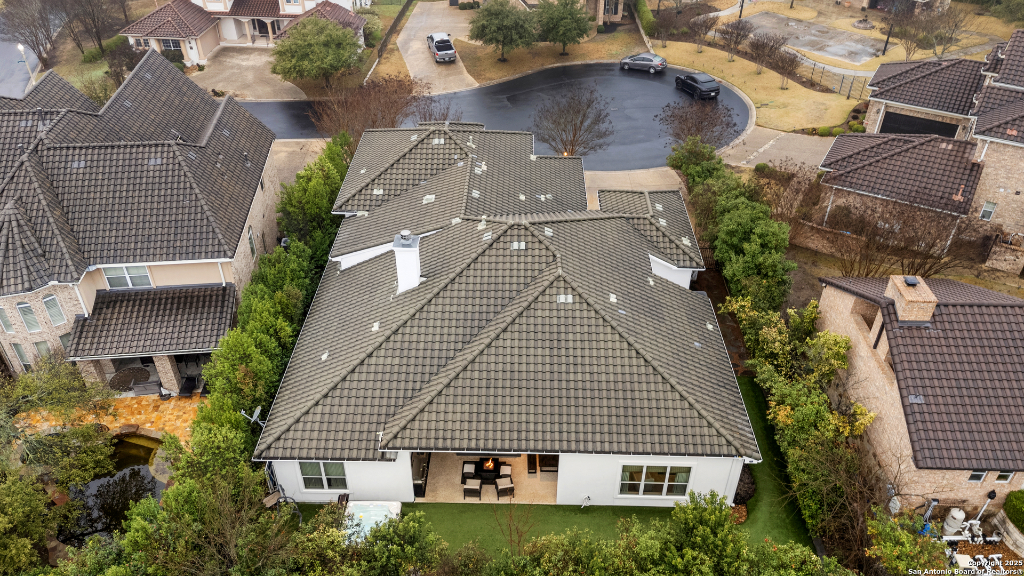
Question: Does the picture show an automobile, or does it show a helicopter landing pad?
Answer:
automobile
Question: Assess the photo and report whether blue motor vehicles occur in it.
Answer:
No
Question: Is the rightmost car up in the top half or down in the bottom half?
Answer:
top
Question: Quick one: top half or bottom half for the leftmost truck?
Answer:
top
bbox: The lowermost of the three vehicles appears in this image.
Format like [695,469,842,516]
[674,73,721,102]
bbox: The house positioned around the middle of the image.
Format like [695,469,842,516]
[253,121,762,514]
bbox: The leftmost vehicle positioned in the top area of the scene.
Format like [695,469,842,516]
[426,30,458,62]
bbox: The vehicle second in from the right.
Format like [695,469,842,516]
[616,52,668,76]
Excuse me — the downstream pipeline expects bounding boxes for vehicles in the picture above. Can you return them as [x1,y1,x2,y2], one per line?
[426,30,458,62]
[616,52,668,76]
[674,73,721,102]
